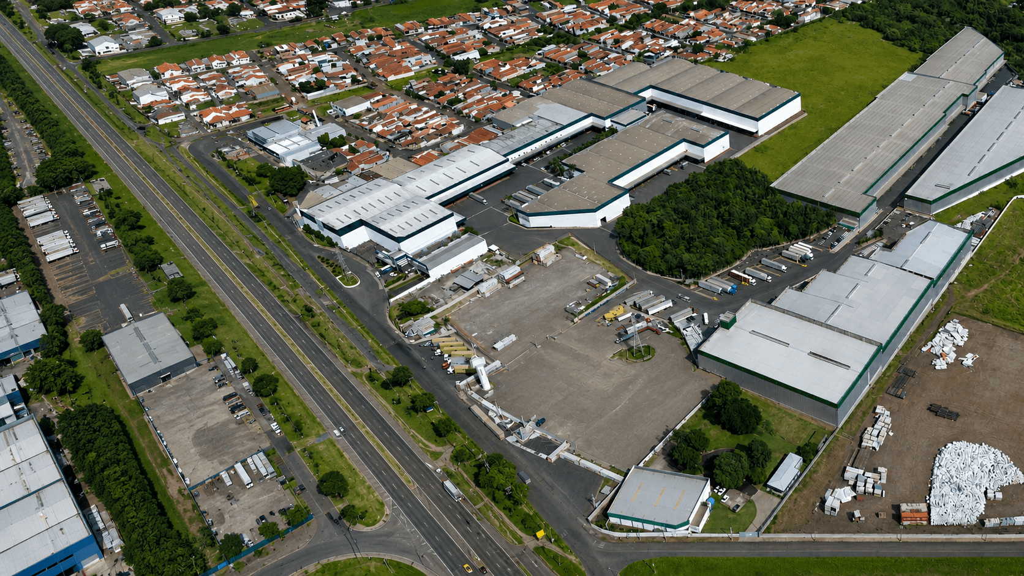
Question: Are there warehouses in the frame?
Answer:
Yes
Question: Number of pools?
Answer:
0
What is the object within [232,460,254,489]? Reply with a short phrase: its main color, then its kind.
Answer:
white truck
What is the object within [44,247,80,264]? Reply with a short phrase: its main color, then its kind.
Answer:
white vehicle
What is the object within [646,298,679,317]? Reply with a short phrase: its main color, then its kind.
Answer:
white vehicle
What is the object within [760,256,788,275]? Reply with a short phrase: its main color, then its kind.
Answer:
gray vehicle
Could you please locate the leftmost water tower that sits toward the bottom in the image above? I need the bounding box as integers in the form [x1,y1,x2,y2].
[473,353,492,393]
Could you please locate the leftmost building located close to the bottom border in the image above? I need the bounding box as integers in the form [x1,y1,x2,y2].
[0,412,103,576]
